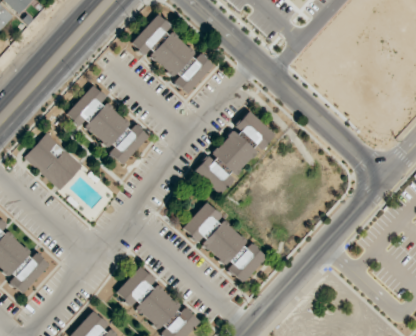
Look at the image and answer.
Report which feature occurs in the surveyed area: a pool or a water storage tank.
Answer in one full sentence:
Visible in the photo is a pool.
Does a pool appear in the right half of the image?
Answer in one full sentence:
No, the scene shows no pool in the right half of the image.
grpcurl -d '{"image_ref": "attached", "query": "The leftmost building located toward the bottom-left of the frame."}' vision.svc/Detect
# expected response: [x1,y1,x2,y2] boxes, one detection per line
[0,220,48,295]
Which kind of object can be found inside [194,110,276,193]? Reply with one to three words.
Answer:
building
